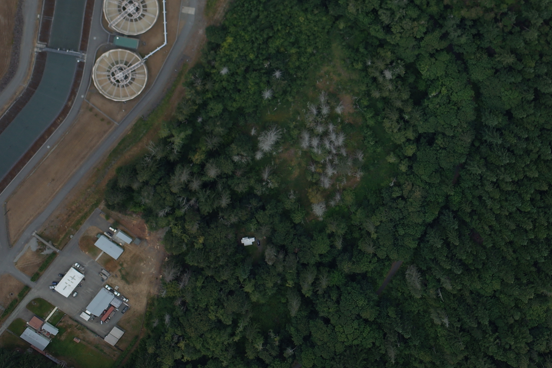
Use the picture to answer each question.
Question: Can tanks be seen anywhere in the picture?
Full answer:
Yes, there's a tank here.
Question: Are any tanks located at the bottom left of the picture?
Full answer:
No, looking at the bottom left of the picture, there is no tank.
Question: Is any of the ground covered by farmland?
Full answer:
No, there's no farmland in this view.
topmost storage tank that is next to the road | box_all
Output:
[103,0,161,37]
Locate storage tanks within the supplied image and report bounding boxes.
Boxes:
[103,0,161,37]
[92,48,150,102]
